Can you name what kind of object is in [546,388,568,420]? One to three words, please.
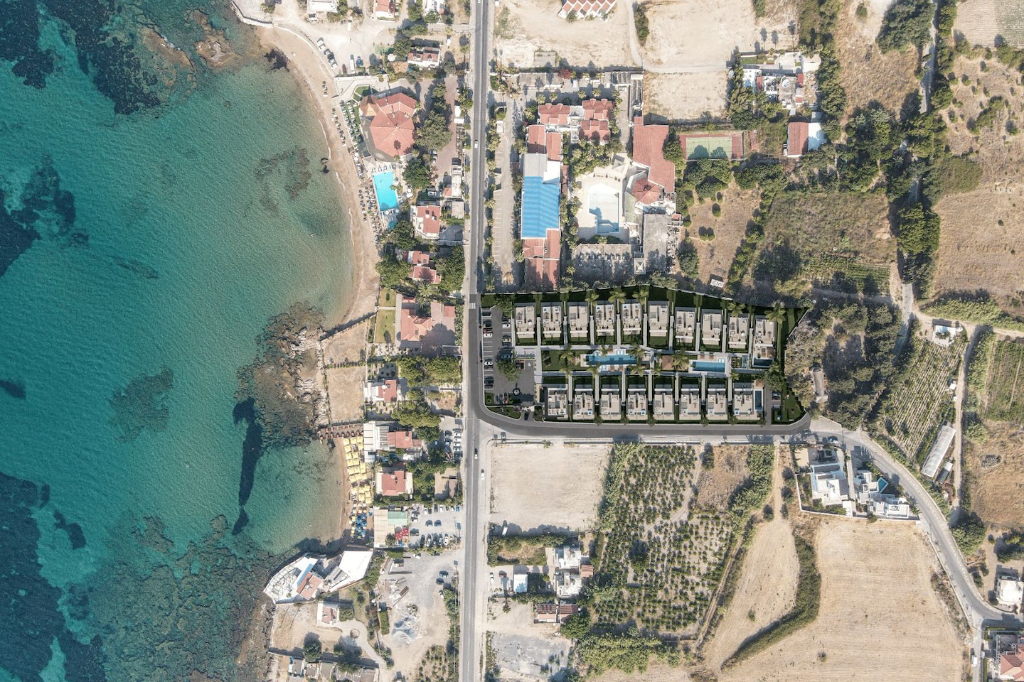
house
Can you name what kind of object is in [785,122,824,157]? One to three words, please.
barn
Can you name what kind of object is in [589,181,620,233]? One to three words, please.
swimming pool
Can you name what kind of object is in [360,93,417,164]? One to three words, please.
building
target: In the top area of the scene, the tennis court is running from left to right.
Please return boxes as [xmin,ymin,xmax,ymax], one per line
[686,136,732,159]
